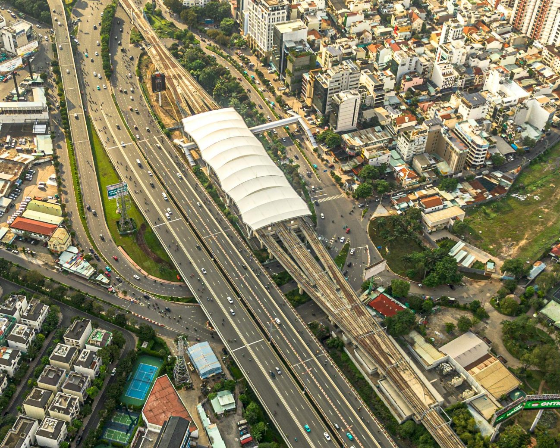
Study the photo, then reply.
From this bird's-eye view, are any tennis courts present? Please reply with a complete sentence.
Yes, the image includes a tennis court.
